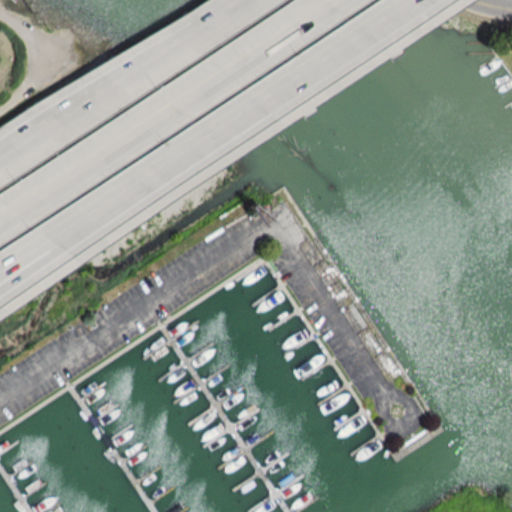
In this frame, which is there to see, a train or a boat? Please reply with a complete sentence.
There is a boat in the scene.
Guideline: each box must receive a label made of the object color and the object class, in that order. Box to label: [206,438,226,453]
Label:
white boat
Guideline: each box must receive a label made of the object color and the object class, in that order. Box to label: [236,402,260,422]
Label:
white boat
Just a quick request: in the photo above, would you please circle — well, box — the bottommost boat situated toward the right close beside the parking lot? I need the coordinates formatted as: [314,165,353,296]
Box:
[356,439,386,462]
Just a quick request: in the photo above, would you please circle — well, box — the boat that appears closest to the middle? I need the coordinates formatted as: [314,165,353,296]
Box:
[244,265,270,286]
